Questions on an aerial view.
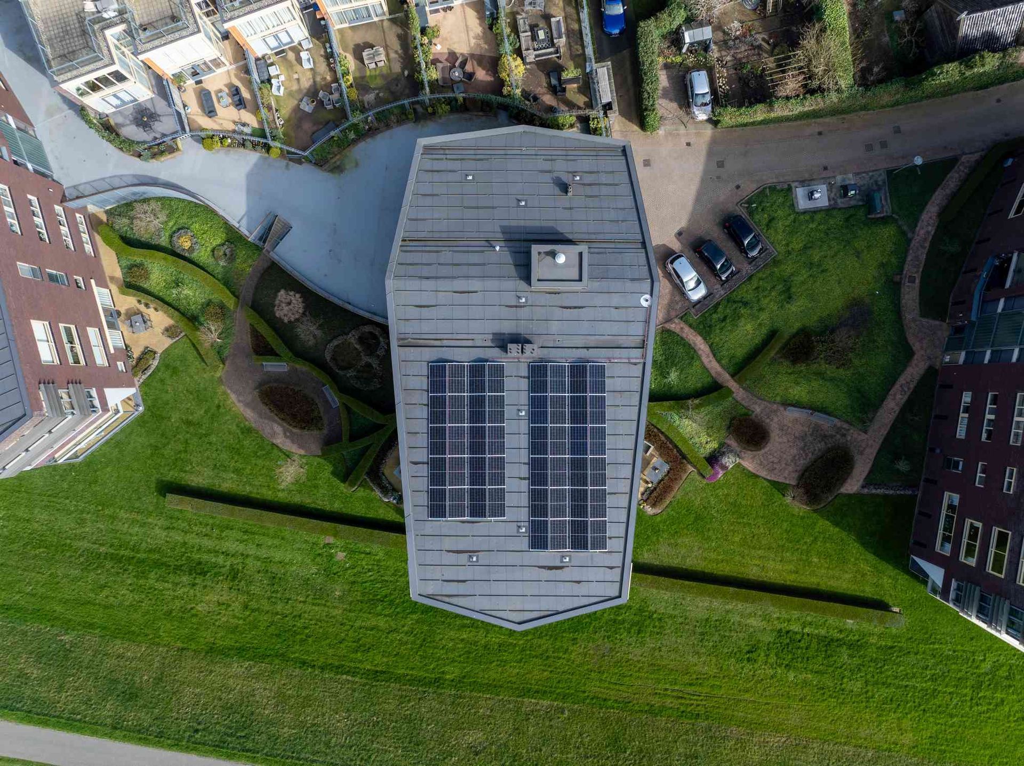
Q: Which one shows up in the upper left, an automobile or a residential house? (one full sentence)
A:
Visible in the upper left is a residential house.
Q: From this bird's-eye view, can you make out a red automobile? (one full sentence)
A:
No, no red automobile can be seen from above.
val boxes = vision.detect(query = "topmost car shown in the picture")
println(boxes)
[600,0,629,37]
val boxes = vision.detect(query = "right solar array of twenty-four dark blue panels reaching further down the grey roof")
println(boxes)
[530,363,608,551]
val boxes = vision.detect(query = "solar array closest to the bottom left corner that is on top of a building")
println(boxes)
[428,363,506,520]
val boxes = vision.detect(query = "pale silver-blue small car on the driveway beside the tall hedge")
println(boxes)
[683,69,714,123]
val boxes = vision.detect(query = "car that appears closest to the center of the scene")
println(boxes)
[663,248,707,306]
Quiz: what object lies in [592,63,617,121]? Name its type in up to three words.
shed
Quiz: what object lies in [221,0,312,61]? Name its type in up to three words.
house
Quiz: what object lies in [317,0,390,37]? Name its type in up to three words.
house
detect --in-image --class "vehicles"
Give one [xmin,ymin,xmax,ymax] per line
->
[683,69,714,123]
[600,0,629,37]
[720,209,763,264]
[663,248,707,306]
[692,233,735,287]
